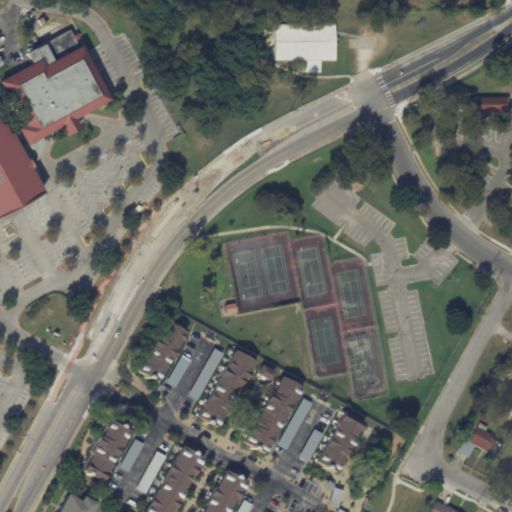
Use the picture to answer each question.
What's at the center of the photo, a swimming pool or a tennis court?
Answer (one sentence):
The feature located at the center of the photo is a tennis court.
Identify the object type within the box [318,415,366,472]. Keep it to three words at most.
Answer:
building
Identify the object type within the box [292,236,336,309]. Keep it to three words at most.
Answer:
tennis court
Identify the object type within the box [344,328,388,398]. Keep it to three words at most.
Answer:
tennis court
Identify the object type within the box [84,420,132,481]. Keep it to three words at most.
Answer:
building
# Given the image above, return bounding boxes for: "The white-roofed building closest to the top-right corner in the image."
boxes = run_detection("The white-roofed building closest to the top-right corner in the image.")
[274,24,338,72]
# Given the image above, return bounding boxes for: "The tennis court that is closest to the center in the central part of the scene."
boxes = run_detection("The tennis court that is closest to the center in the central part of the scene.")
[228,232,302,312]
